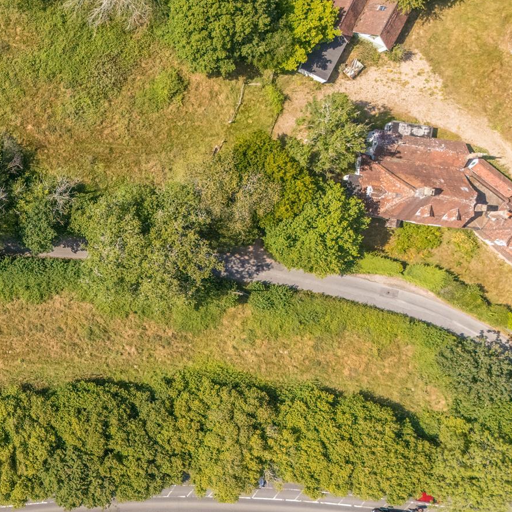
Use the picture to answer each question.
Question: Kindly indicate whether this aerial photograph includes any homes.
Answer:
Yes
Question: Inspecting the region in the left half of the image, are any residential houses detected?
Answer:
No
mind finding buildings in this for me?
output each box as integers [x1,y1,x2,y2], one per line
[350,0,414,51]
[291,30,348,84]
[340,133,504,229]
